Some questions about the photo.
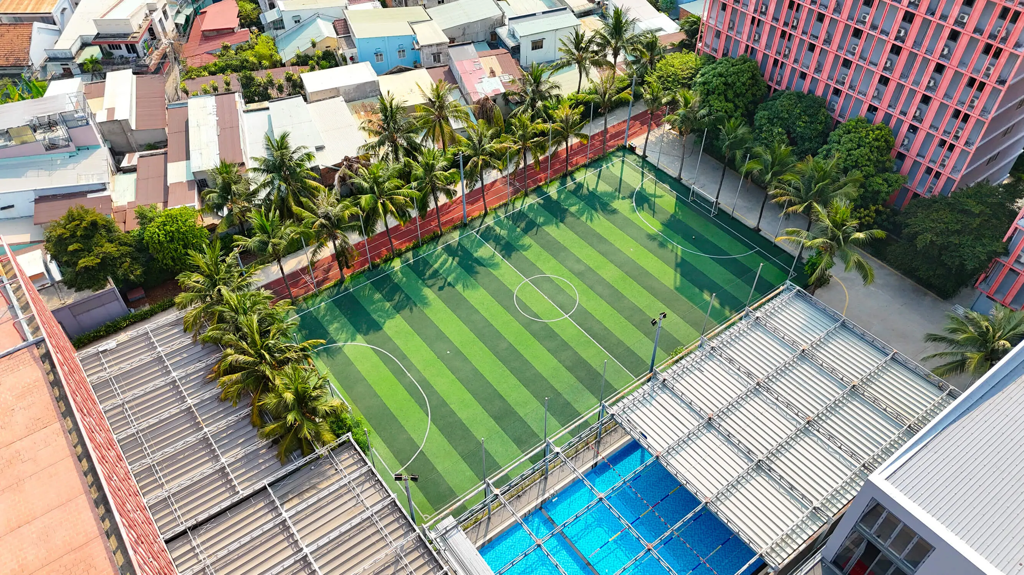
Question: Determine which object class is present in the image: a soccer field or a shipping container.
soccer field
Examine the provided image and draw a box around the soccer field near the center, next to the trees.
[283,148,816,539]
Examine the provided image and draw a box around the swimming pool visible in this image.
[483,440,759,575]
